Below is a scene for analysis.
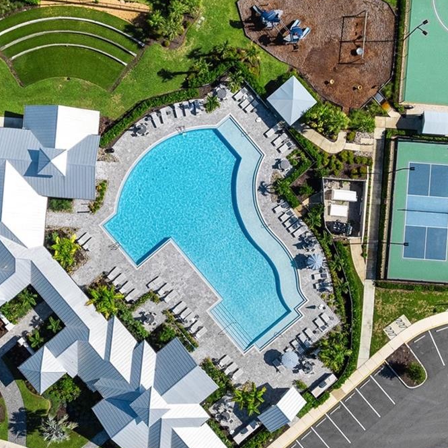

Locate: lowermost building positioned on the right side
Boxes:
[258,387,307,435]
